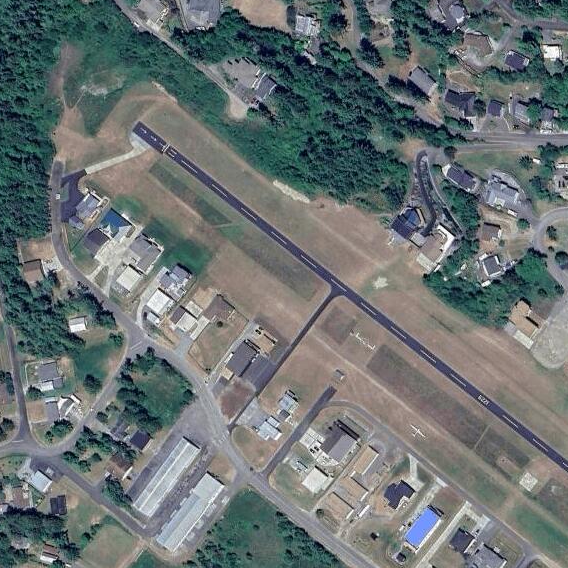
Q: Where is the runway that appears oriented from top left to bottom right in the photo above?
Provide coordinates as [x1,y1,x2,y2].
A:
[131,119,568,476]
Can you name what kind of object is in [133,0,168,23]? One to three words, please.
house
